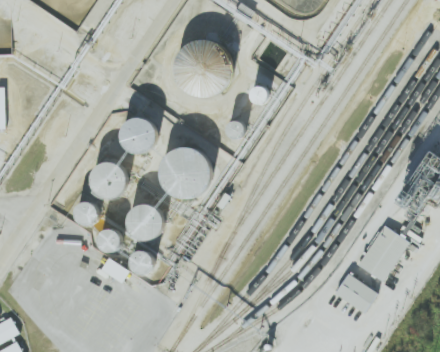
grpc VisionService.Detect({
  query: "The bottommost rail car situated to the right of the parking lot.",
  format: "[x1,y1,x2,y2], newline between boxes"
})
[243,306,270,330]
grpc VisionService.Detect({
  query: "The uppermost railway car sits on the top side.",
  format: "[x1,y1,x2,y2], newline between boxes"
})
[413,31,433,58]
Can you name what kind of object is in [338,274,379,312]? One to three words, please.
building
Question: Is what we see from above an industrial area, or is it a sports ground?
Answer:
industrial area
